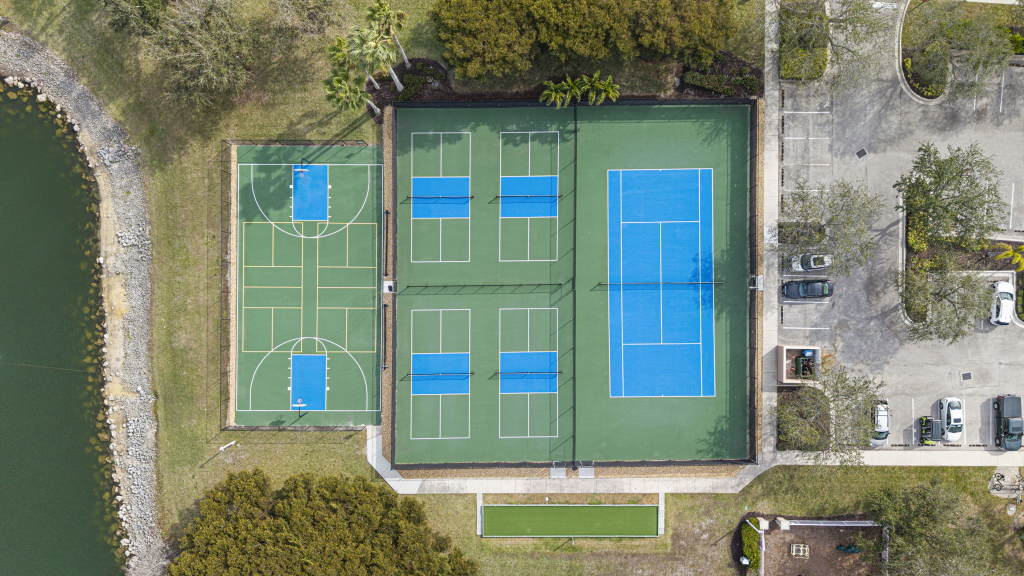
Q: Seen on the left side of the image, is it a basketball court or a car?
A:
basketball court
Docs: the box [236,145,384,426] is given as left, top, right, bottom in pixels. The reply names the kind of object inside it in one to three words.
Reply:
basketball court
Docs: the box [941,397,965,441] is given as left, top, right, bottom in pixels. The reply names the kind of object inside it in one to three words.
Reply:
car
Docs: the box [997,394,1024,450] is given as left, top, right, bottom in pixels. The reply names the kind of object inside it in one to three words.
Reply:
truck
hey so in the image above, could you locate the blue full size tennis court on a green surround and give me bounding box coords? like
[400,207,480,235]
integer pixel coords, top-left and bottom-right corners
[574,104,750,461]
